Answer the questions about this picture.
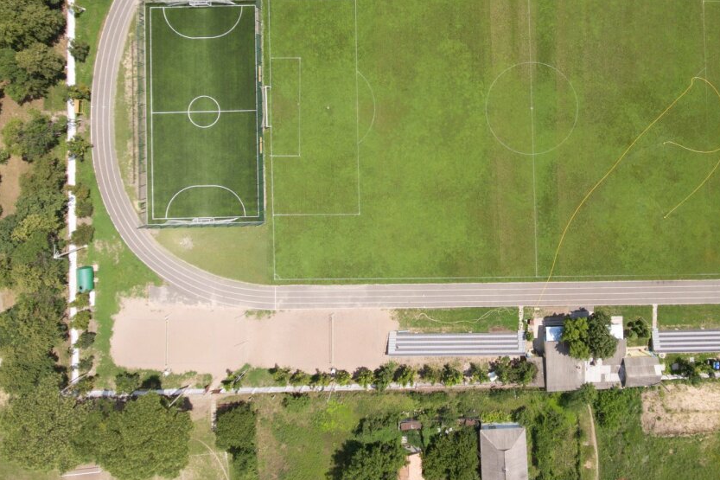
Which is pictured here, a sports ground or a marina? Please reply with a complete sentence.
This looks like a sports ground.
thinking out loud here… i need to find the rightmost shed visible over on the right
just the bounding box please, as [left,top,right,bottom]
[623,352,662,387]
